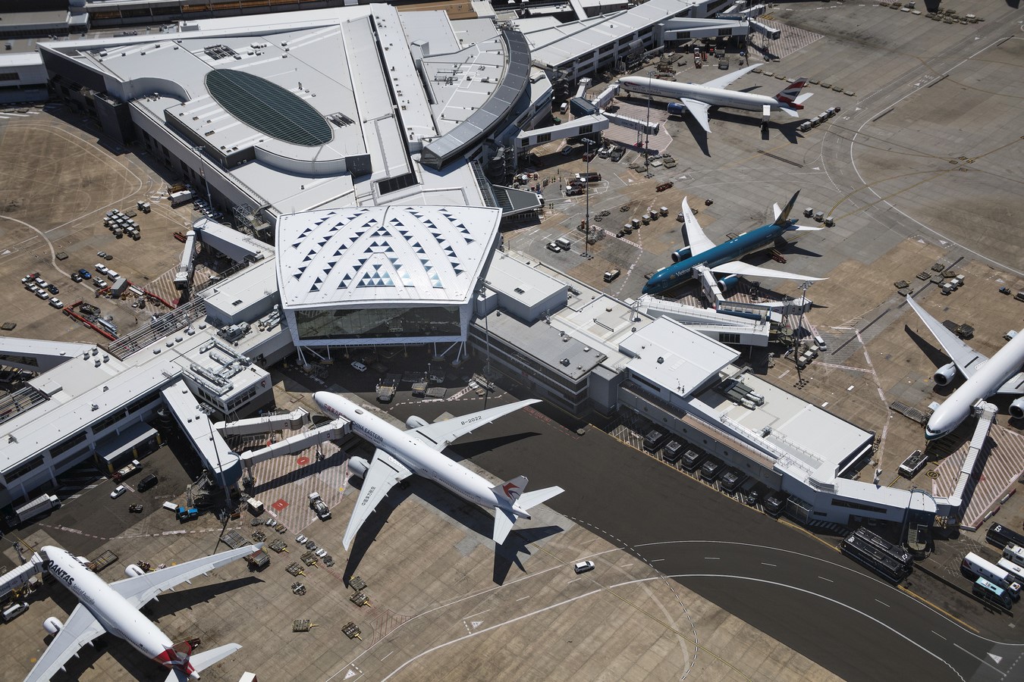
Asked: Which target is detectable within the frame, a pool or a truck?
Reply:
truck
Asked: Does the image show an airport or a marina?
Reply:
airport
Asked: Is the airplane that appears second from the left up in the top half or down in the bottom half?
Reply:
bottom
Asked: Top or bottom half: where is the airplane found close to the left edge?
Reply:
bottom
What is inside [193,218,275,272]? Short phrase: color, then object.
white jet bridge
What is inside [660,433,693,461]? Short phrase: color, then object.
black bus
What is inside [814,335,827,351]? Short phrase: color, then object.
white vehicle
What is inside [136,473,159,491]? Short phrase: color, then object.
black vehicle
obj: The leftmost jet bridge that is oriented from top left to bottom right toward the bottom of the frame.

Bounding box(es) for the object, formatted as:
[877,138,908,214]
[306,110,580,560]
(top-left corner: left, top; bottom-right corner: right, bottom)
[161,379,242,508]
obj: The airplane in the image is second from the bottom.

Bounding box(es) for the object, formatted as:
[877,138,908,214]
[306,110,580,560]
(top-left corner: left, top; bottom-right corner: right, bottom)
[312,391,564,551]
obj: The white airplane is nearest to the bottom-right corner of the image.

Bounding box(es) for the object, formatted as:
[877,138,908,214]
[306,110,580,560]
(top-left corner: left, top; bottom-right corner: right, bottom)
[908,283,1024,440]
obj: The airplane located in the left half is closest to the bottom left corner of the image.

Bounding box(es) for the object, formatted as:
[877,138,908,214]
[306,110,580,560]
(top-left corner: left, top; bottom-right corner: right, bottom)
[25,540,265,682]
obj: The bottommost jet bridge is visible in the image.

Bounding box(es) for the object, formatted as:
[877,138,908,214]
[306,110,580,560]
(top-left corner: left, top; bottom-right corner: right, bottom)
[0,550,53,605]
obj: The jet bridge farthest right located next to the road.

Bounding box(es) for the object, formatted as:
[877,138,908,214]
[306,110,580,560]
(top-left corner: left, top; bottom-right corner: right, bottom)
[950,402,1003,535]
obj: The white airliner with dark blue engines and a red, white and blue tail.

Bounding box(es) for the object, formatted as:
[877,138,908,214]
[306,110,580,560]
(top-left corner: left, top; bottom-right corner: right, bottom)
[616,63,813,131]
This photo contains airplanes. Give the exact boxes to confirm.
[25,540,265,682]
[312,391,564,551]
[908,283,1024,440]
[641,189,826,296]
[616,63,813,131]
